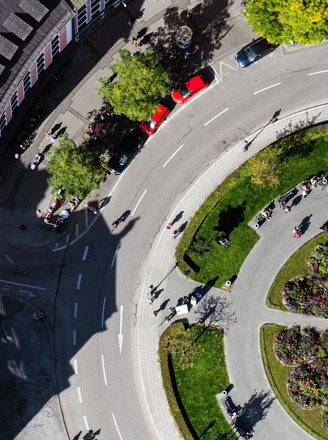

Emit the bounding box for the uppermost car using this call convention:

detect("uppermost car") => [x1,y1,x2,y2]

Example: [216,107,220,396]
[236,33,278,67]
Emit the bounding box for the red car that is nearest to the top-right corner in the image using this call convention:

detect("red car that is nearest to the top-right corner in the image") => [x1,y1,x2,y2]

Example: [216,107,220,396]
[174,73,209,104]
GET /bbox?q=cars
[174,73,209,104]
[107,134,143,174]
[138,104,172,136]
[236,33,278,67]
